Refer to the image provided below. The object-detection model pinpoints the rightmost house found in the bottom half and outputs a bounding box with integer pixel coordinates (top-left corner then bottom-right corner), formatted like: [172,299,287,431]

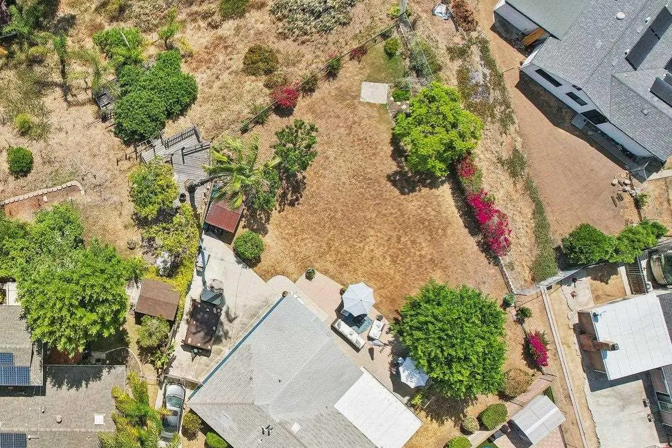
[572,289,672,448]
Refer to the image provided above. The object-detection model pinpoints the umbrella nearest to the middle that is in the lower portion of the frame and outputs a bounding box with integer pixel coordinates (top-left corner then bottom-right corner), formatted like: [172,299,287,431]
[339,282,375,318]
